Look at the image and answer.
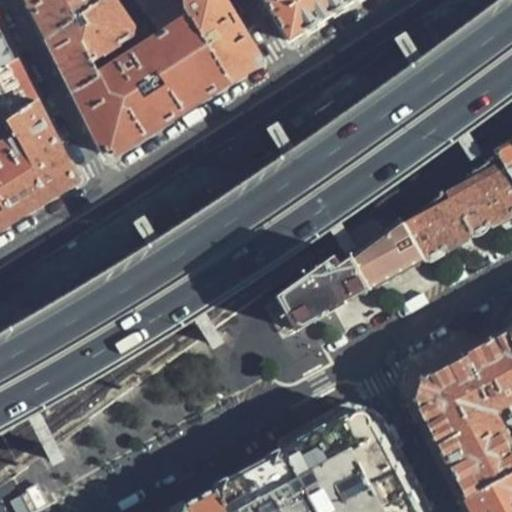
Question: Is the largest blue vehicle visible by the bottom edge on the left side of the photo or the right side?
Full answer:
The largest blue vehicle visible by the bottom edge sits on the left side.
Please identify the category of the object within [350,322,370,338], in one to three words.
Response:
car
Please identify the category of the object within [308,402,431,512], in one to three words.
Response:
building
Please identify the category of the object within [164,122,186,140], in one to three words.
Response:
vehicle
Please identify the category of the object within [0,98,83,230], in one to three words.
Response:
house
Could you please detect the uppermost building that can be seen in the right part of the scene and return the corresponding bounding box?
[266,0,362,42]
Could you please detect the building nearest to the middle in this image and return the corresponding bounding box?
[278,255,366,326]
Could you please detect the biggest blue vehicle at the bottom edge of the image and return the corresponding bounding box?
[115,488,146,511]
